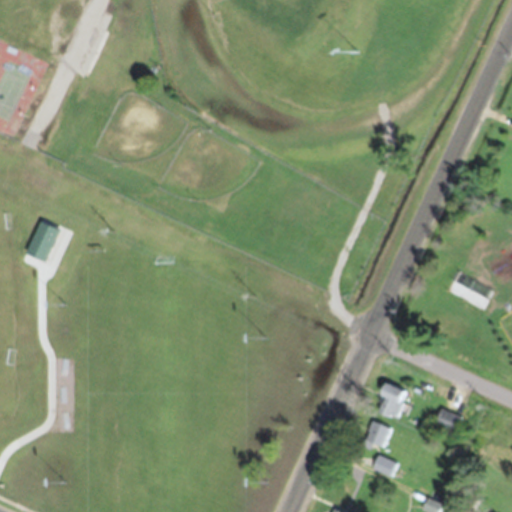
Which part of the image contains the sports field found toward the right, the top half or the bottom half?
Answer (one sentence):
The top half of the photo is where the sports field found toward the right is.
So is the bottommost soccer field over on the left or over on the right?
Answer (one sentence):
You can find the bottommost soccer field on the left side of the picture.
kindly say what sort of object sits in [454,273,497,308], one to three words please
shed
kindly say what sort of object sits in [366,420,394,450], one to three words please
house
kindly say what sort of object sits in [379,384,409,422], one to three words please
house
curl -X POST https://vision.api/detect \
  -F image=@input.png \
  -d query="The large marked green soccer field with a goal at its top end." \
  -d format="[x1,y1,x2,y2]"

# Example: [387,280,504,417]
[88,264,248,512]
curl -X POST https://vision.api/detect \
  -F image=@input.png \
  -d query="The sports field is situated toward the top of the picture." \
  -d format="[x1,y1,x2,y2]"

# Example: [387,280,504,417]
[230,0,464,102]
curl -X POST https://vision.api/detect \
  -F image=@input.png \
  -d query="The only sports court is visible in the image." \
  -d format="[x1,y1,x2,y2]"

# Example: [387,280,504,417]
[0,38,48,136]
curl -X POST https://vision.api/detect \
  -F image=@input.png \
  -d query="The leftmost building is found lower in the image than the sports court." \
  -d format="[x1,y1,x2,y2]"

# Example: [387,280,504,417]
[30,222,60,262]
